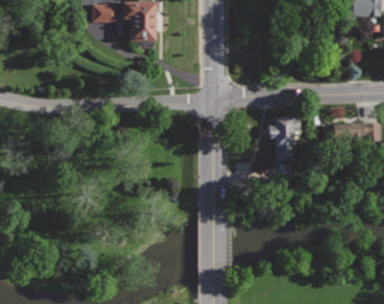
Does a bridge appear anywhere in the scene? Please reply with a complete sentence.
Yes, the picture does show a bridge.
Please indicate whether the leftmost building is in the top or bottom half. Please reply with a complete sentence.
The leftmost building sits in the top half of the picture.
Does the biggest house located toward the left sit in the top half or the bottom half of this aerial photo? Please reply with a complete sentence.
The top half of the photo is where the biggest house located toward the left is.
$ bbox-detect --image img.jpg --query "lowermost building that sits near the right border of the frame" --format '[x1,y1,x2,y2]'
[336,122,382,144]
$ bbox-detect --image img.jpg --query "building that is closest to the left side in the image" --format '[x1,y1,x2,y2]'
[92,3,118,22]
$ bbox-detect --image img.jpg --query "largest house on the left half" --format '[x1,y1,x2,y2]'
[124,1,164,48]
